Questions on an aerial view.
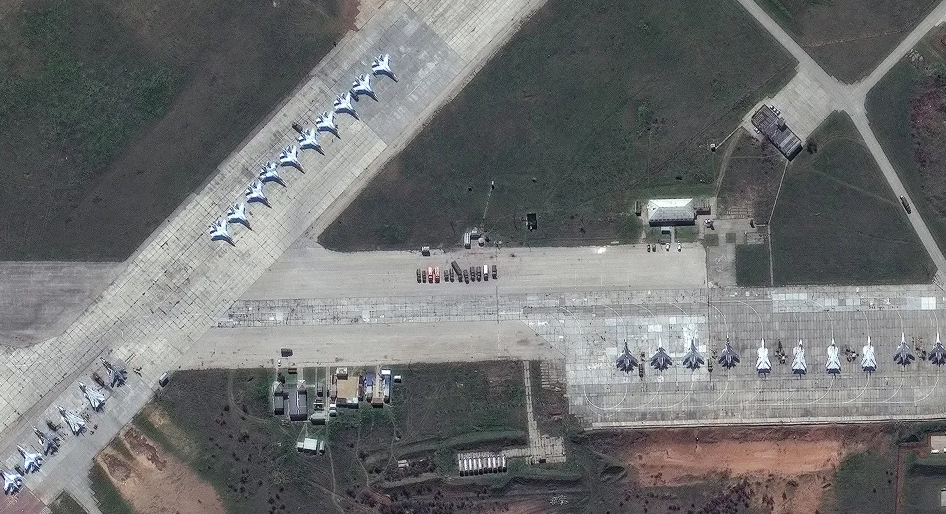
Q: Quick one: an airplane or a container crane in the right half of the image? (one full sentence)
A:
The one visible in the right half of the image is an airplane.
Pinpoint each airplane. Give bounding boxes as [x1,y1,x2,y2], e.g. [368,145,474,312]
[756,339,770,372]
[206,215,234,242]
[18,445,43,473]
[649,337,672,367]
[0,471,24,497]
[928,333,946,364]
[243,178,271,204]
[276,144,303,170]
[826,337,841,372]
[297,126,323,152]
[331,92,358,117]
[311,109,340,135]
[58,407,86,434]
[370,53,397,80]
[102,358,128,386]
[79,382,106,410]
[257,157,285,184]
[615,339,637,370]
[892,335,915,364]
[224,201,251,227]
[348,70,376,97]
[32,426,60,455]
[793,338,808,372]
[718,335,740,365]
[861,335,877,369]
[682,338,705,369]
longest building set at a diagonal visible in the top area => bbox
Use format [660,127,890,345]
[751,105,803,158]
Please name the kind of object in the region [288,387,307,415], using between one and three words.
building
